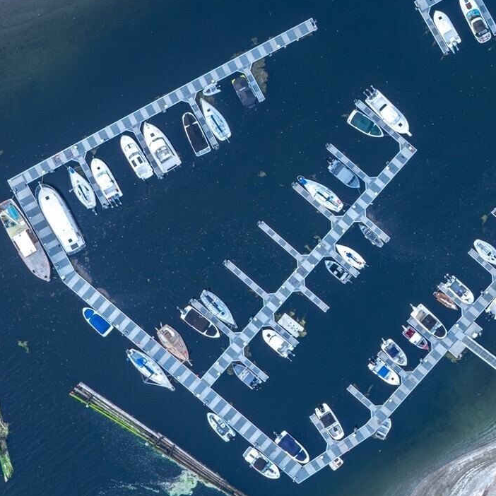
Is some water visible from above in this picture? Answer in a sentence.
Yes, water can be seen from above here.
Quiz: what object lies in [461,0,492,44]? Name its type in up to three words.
boat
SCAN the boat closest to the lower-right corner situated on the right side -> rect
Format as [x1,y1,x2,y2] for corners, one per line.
[374,418,390,441]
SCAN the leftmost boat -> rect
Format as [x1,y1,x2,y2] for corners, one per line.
[0,197,49,281]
